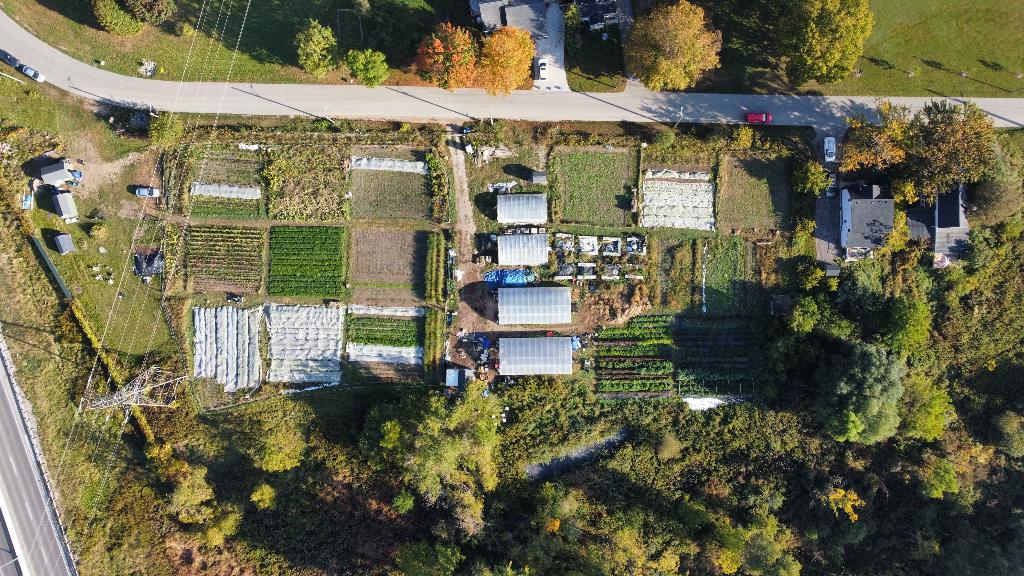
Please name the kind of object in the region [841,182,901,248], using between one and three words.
house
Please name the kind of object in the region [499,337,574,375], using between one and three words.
greenhouse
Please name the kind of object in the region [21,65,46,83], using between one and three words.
car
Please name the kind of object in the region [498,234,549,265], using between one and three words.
greenhouse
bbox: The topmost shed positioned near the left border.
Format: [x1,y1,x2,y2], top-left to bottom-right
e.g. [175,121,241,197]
[36,159,73,185]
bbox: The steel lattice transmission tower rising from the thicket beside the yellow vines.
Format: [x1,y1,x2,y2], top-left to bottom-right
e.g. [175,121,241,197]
[76,363,190,426]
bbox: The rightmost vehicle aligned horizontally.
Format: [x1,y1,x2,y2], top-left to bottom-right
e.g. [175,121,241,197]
[743,112,771,124]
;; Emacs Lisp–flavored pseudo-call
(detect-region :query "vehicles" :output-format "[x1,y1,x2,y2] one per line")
[136,188,161,199]
[538,59,548,83]
[824,171,838,199]
[21,65,46,83]
[823,136,836,162]
[743,112,771,124]
[0,49,21,67]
